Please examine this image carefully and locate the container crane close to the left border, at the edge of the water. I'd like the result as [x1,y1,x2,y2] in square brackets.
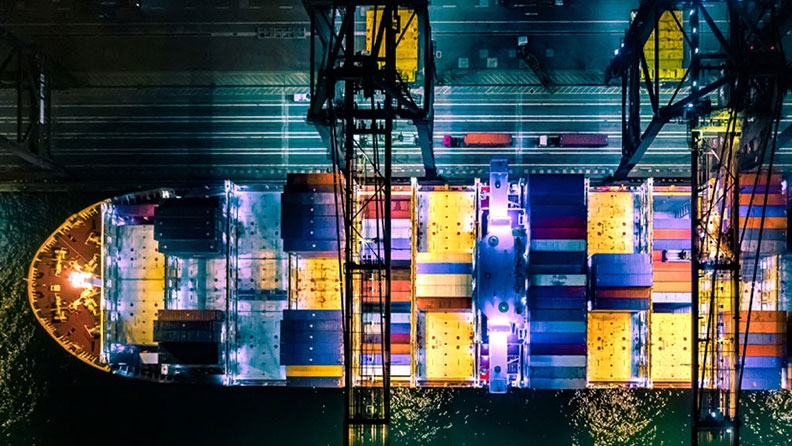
[0,29,90,180]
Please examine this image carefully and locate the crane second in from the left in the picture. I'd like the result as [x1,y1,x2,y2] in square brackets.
[302,0,452,446]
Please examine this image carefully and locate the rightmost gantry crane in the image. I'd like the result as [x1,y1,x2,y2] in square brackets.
[597,0,792,446]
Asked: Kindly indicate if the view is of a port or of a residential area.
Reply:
port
